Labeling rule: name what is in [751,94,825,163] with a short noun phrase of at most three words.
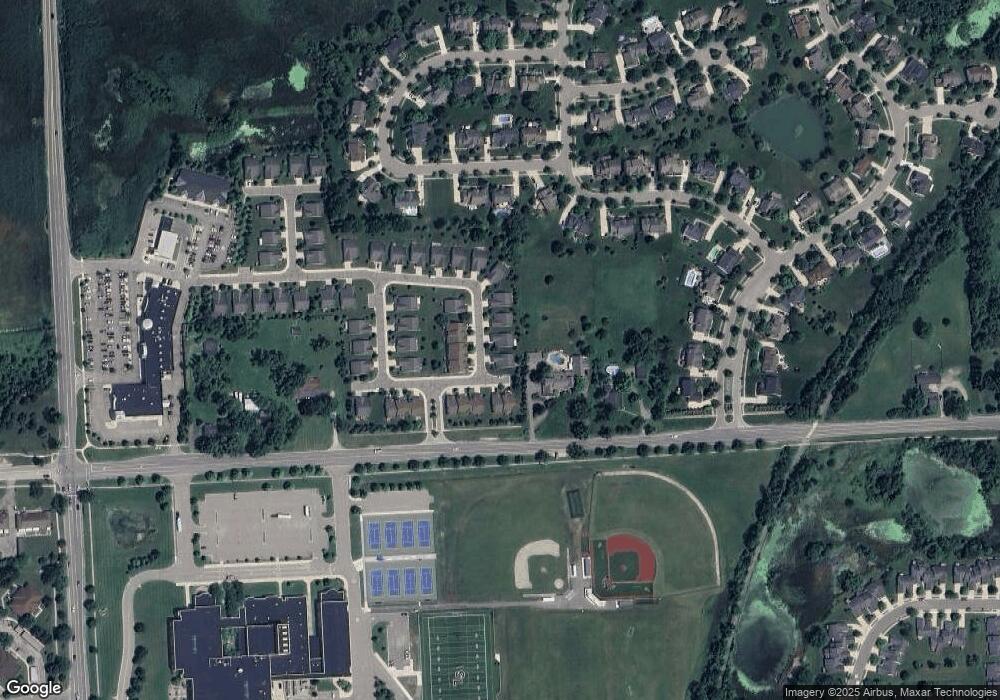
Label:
pond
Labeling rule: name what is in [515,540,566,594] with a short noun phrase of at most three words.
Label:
baseball field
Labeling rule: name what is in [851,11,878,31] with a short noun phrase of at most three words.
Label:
house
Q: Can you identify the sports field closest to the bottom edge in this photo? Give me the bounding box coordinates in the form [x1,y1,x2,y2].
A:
[420,608,498,700]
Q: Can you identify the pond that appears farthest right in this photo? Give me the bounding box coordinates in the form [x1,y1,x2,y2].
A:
[904,452,975,534]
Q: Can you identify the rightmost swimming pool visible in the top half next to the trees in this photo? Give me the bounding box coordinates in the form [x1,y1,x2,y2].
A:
[872,238,892,259]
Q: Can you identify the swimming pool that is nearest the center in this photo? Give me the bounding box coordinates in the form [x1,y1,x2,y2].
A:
[549,351,567,368]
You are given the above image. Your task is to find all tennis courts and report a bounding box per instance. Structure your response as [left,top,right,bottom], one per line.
[388,568,400,596]
[370,569,384,597]
[400,520,414,548]
[420,566,434,594]
[367,521,381,549]
[384,521,397,549]
[417,519,431,547]
[403,567,417,595]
